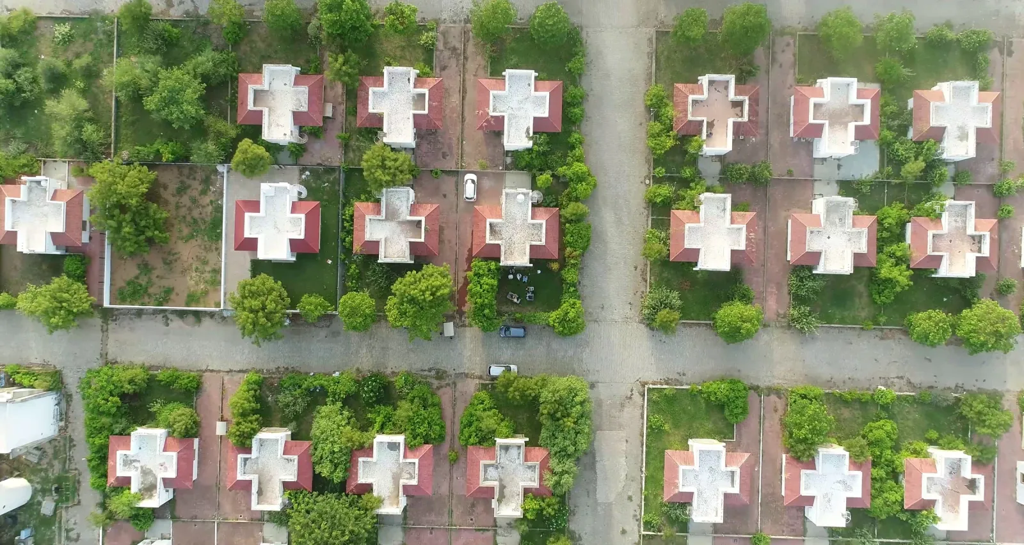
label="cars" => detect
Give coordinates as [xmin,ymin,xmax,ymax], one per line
[463,174,477,201]
[487,363,517,376]
[499,324,526,339]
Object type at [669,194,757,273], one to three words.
house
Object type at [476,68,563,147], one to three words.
house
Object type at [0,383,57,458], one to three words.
building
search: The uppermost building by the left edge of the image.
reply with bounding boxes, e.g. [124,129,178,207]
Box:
[0,172,92,253]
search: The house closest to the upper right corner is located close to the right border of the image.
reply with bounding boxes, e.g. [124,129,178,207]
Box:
[908,79,1000,158]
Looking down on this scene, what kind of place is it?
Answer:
residential area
